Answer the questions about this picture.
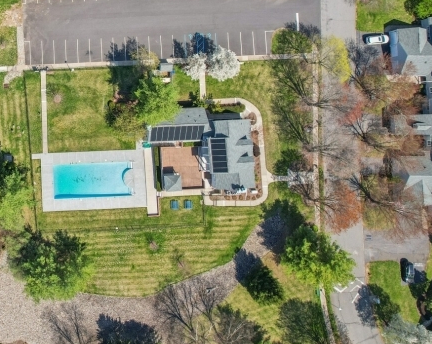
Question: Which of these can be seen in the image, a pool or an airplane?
pool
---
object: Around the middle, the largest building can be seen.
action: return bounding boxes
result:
[148,108,255,190]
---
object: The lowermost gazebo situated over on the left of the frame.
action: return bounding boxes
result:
[163,175,182,191]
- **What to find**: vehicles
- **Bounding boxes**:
[362,34,385,45]
[402,261,416,283]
